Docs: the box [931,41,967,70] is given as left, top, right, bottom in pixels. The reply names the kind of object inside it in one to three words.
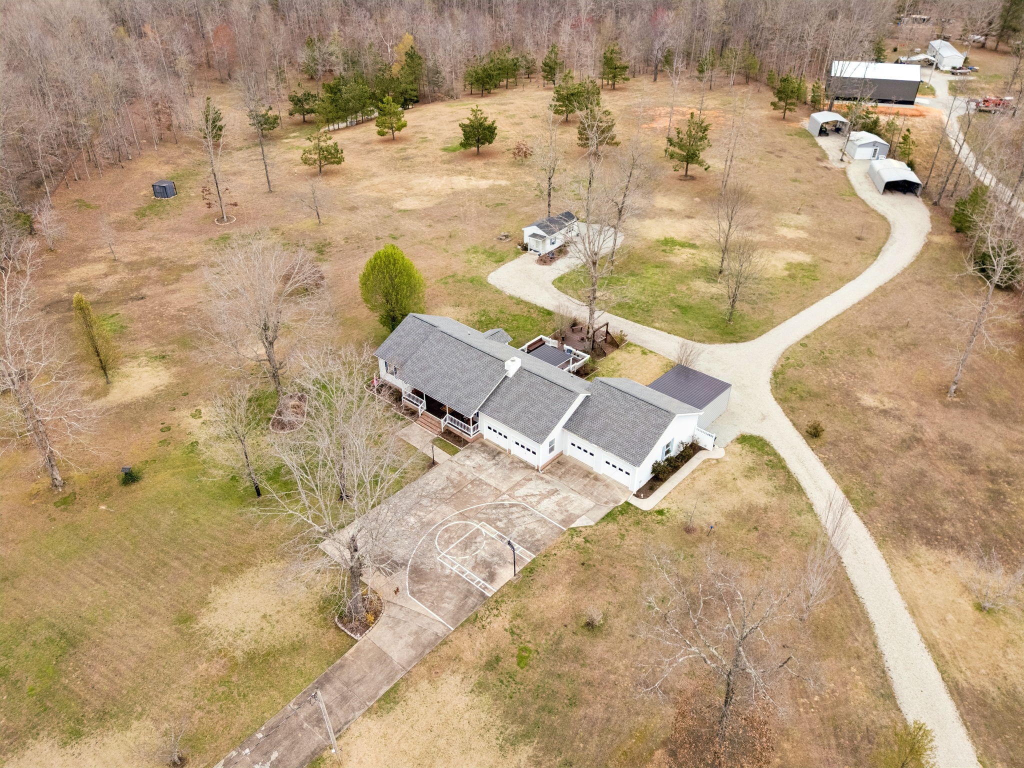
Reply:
house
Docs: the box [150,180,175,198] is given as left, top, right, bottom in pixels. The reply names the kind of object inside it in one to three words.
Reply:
shed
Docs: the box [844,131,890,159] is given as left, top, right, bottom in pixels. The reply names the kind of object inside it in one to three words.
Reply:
building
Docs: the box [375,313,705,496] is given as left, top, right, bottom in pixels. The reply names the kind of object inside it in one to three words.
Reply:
house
